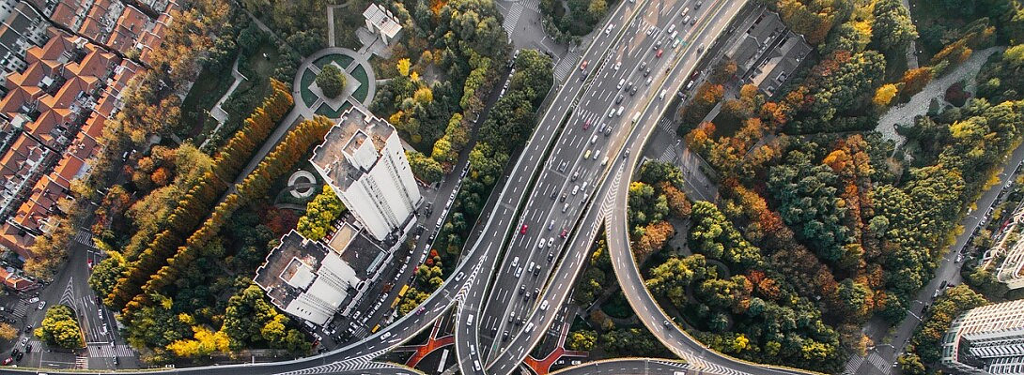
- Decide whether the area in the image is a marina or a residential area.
residential area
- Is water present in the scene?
No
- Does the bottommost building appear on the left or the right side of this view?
right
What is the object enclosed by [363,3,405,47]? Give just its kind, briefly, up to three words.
building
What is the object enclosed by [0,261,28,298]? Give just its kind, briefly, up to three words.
house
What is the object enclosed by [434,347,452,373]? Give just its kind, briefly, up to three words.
vehicle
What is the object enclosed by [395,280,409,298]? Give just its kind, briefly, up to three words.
vehicle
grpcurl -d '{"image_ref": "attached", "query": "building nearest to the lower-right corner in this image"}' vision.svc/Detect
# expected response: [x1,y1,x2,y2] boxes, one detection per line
[942,297,1024,375]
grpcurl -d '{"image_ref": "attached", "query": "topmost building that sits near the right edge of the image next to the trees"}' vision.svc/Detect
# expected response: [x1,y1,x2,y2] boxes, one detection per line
[991,226,1024,289]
